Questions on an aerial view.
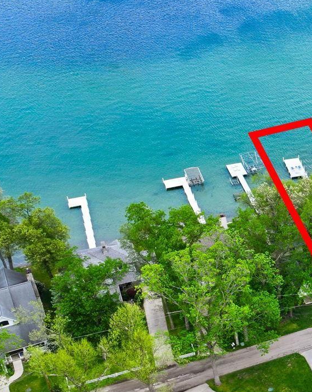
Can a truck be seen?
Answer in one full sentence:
No, there's no truck here.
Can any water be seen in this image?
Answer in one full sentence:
Yes, some water is visible.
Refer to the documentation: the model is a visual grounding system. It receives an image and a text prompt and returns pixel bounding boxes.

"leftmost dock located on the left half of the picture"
[65,190,94,241]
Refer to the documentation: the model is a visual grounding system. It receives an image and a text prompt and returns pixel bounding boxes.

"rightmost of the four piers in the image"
[282,152,310,182]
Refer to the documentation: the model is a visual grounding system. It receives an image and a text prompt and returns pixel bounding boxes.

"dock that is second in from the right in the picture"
[226,163,257,206]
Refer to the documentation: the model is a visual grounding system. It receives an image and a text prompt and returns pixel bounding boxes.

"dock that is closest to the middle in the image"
[162,174,206,224]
